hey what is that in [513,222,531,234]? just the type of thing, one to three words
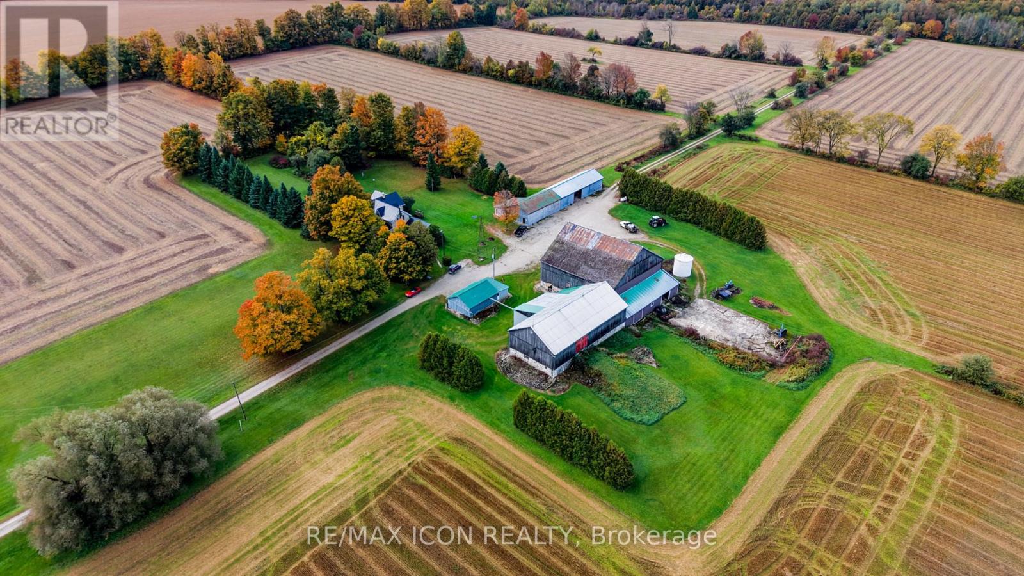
vehicle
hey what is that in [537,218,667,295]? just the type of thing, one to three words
barn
